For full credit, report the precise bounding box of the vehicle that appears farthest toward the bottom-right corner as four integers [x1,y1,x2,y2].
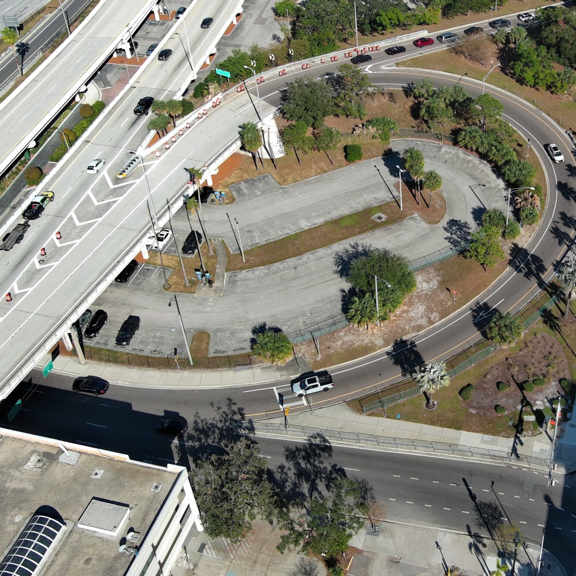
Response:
[292,373,334,395]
